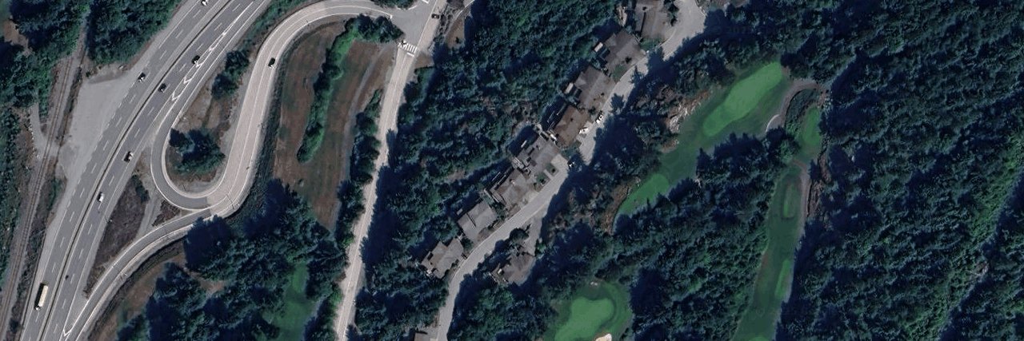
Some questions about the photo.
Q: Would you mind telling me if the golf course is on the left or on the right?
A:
right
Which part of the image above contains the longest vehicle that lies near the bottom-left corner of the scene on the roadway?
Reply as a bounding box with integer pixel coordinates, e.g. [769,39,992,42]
[37,284,50,309]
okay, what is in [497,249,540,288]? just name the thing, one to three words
house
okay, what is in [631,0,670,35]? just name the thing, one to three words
house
